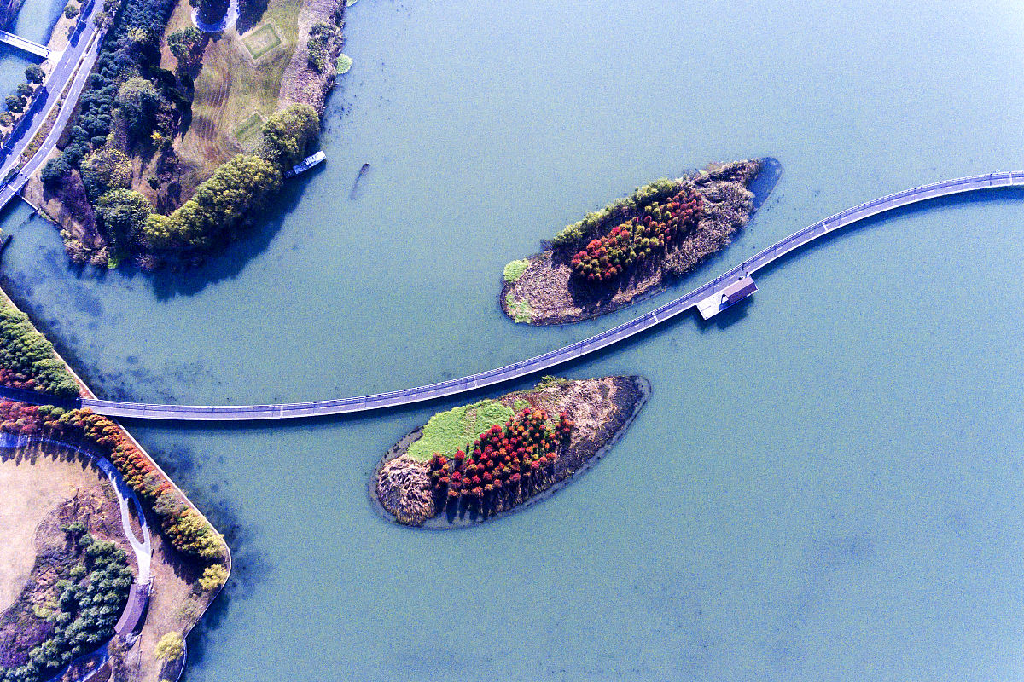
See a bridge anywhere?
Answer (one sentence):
Yes, the frame does contain a bridge.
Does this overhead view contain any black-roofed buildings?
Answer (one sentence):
No, no black-roofed building is visible in the scene.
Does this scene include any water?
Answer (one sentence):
Yes, there is water in the image.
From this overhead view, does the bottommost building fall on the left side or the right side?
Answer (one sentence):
It is on the left.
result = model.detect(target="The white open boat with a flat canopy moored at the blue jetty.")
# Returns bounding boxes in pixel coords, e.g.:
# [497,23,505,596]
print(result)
[303,150,325,168]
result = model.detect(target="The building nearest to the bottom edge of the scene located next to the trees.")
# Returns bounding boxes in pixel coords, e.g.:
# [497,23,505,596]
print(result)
[114,581,151,636]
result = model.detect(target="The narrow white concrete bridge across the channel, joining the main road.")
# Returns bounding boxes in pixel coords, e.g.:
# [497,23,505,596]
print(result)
[0,27,52,60]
